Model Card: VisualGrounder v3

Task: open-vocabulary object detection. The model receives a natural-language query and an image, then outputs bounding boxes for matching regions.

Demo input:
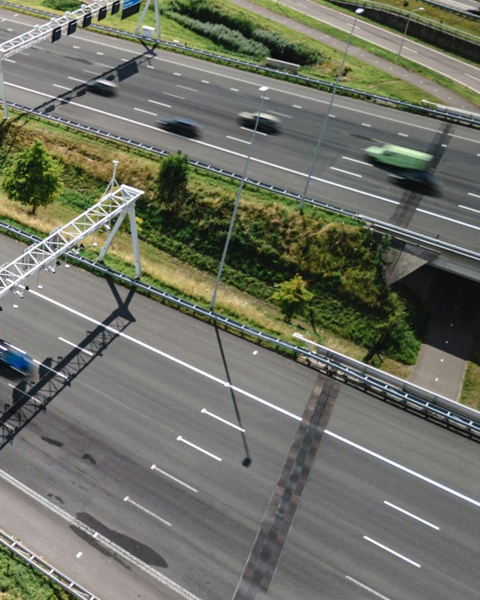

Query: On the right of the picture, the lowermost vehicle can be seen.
[390,171,446,196]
